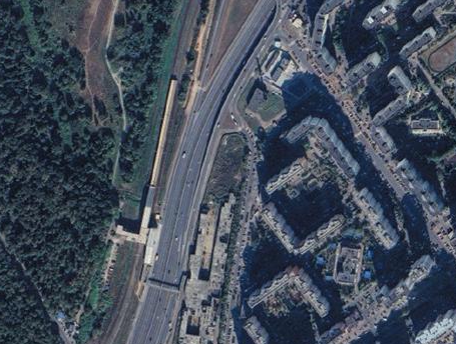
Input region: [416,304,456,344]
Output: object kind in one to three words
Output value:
building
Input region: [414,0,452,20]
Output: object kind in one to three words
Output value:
building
